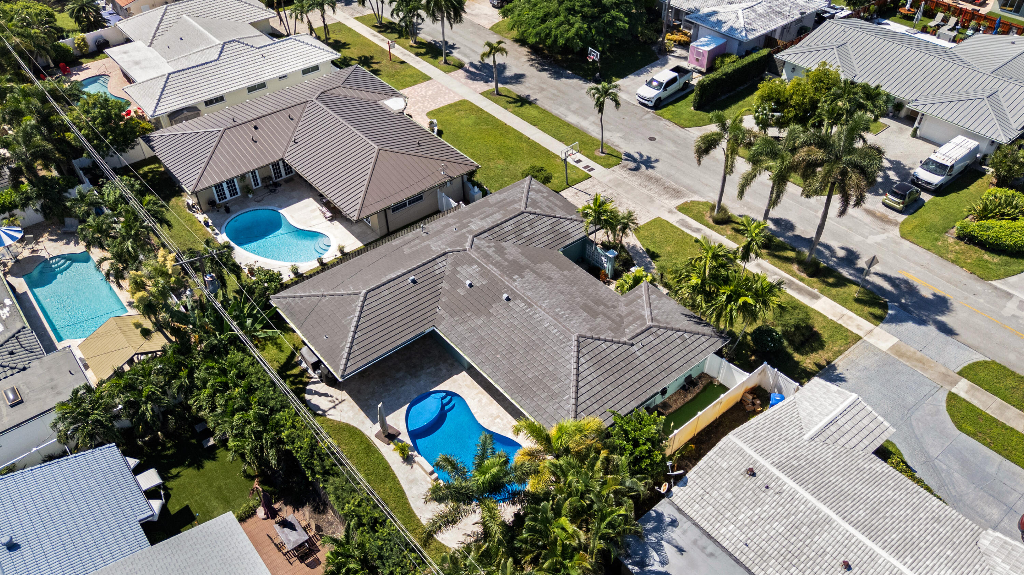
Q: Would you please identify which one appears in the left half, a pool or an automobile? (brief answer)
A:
pool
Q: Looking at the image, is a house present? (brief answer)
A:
Yes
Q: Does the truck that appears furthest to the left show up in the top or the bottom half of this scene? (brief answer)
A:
top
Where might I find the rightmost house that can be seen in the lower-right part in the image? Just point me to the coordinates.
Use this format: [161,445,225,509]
[611,375,1024,575]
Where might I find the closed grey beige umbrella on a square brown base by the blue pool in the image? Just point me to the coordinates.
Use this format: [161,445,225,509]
[371,402,399,450]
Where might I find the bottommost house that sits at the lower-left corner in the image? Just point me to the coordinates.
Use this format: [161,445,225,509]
[0,443,274,575]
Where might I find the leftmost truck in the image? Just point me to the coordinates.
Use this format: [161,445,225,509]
[634,64,696,106]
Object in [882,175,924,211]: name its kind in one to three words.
car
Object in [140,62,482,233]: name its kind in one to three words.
house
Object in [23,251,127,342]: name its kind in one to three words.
swimming pool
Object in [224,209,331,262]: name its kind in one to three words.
swimming pool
